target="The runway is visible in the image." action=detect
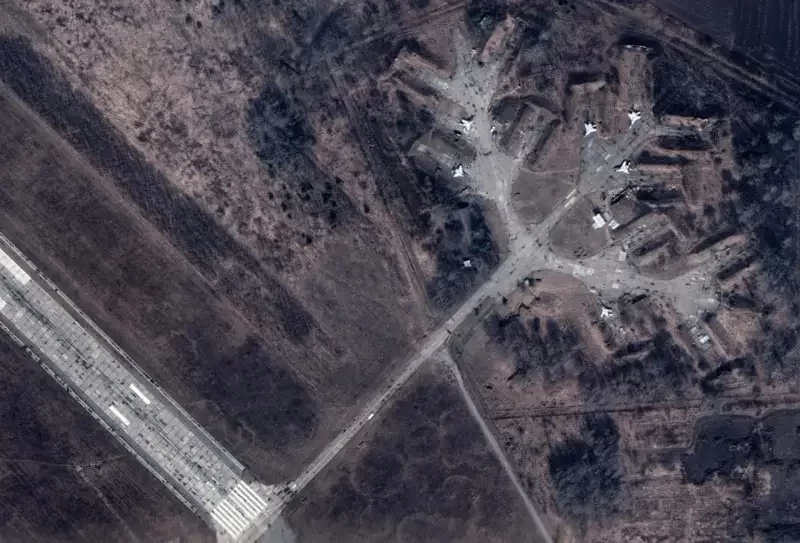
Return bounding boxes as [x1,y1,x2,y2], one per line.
[0,248,267,538]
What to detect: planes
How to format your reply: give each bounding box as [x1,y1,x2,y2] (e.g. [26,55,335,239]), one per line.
[585,120,597,136]
[452,164,464,180]
[461,116,472,132]
[616,161,634,172]
[630,109,641,126]
[600,307,616,321]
